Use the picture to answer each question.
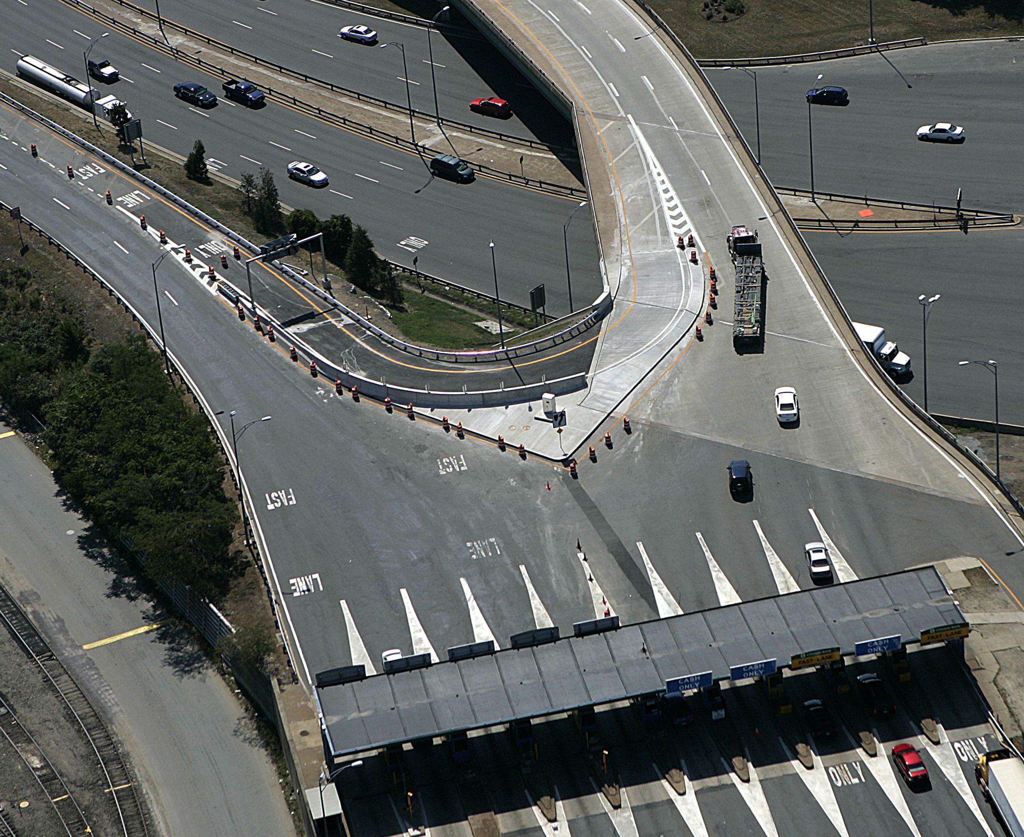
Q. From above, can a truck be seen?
Yes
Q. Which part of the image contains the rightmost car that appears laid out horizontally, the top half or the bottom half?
top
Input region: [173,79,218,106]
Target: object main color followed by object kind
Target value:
black car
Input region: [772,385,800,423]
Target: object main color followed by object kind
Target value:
white car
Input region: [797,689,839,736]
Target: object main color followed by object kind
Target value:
black car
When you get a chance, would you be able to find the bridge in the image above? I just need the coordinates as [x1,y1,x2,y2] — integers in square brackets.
[440,0,1024,541]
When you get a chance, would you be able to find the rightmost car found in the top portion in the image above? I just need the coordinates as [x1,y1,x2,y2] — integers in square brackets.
[914,119,969,141]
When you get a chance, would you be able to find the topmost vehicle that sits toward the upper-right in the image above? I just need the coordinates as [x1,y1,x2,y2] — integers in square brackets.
[801,82,853,104]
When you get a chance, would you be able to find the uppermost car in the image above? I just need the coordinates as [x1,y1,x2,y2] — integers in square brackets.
[336,22,382,44]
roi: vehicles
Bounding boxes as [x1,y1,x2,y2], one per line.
[772,385,800,423]
[10,55,139,138]
[803,540,834,583]
[425,148,478,180]
[380,650,407,671]
[173,79,218,106]
[847,312,914,379]
[850,668,893,715]
[466,94,515,117]
[914,119,969,141]
[978,758,1024,837]
[889,738,933,789]
[219,77,270,107]
[284,160,331,186]
[797,689,839,736]
[726,460,753,496]
[801,82,853,104]
[336,22,382,44]
[87,52,121,81]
